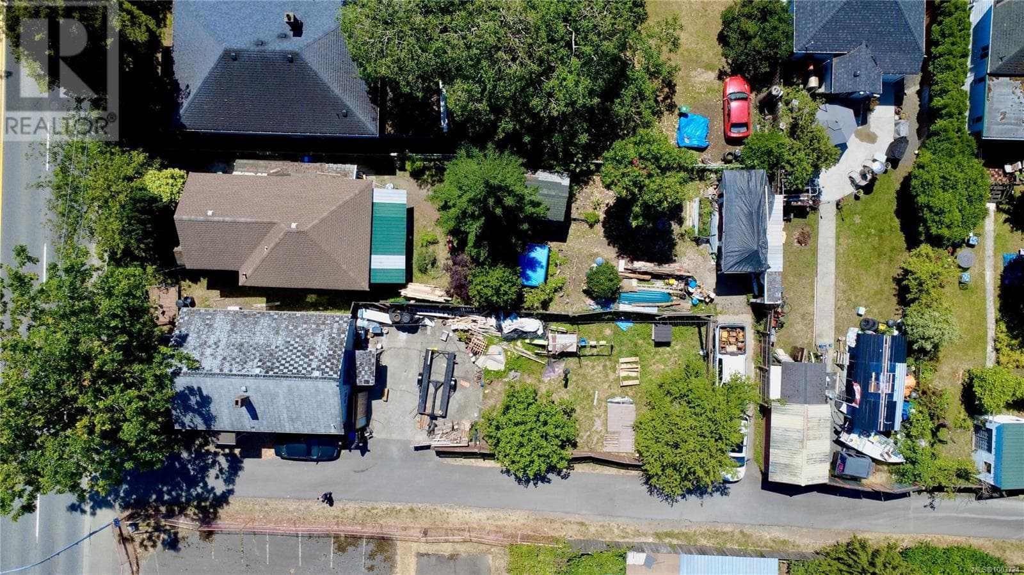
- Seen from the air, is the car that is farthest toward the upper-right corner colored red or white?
red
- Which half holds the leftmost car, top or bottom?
bottom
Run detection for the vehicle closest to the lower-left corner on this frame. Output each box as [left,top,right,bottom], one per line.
[275,434,343,463]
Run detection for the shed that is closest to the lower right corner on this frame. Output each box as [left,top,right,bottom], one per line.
[973,416,1024,490]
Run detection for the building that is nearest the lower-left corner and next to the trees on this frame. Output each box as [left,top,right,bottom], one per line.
[172,308,379,445]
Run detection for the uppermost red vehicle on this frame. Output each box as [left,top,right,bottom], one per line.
[720,77,753,142]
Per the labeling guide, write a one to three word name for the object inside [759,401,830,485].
shed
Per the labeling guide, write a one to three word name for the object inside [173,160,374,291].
house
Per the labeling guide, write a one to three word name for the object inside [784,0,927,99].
house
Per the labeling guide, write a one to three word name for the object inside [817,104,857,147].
umbrella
